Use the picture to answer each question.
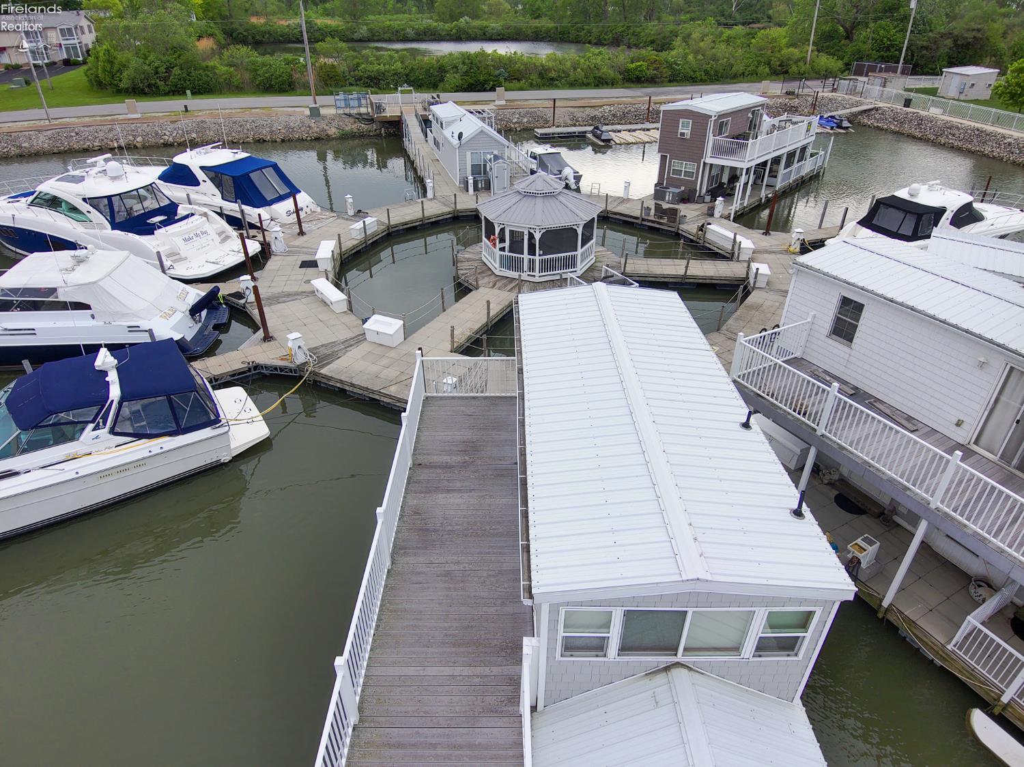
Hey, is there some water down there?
Yes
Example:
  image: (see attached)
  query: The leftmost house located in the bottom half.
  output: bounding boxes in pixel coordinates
[324,270,857,767]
